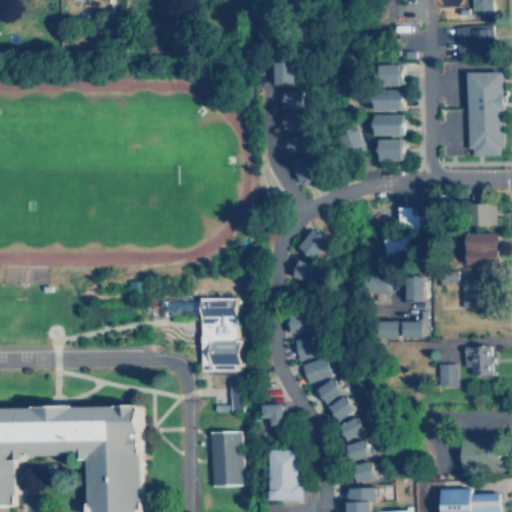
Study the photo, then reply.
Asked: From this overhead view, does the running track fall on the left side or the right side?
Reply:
left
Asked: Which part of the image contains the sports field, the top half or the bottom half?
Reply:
top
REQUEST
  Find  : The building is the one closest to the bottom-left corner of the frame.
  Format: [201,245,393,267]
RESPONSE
[0,406,152,512]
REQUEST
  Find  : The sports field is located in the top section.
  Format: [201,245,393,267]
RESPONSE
[0,92,240,248]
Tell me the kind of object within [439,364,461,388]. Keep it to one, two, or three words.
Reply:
building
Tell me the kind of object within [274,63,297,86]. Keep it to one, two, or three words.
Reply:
house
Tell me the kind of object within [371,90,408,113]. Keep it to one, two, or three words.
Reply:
house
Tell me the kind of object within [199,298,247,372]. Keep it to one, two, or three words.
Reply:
building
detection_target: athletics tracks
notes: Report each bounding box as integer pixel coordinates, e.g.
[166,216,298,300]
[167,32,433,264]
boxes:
[0,76,258,284]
